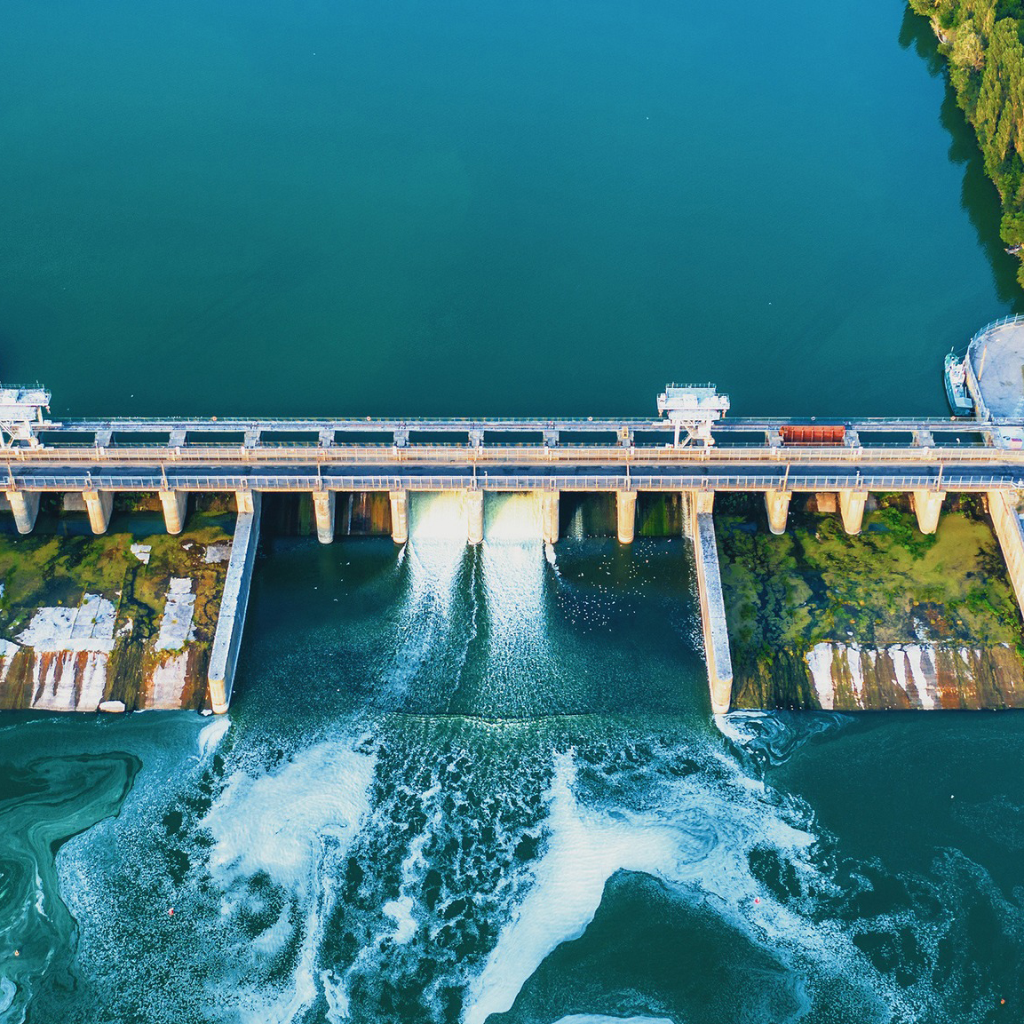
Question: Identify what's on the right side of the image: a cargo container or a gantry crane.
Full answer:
What appears on the right side of the image is a gantry crane.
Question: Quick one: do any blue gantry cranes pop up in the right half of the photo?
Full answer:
No, no blue gantry crane appears in the right half of the photo.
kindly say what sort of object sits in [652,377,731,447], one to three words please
container crane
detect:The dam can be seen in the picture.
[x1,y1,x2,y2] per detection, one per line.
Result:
[0,421,1024,712]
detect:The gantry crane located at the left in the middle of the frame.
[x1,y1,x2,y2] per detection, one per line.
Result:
[0,377,53,447]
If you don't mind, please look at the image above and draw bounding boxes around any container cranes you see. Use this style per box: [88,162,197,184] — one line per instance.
[652,377,731,447]
[0,377,53,447]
